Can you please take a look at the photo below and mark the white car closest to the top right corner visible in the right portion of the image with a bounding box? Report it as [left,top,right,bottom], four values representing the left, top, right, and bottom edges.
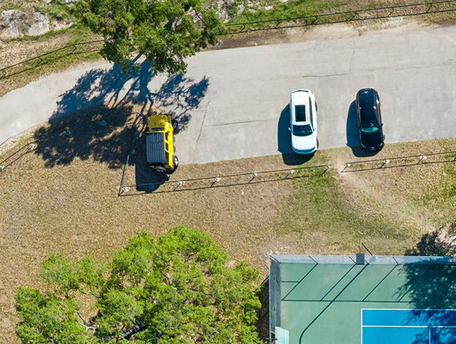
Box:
[291,90,320,153]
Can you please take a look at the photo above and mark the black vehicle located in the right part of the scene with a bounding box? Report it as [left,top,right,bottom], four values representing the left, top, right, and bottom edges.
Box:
[359,89,386,151]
